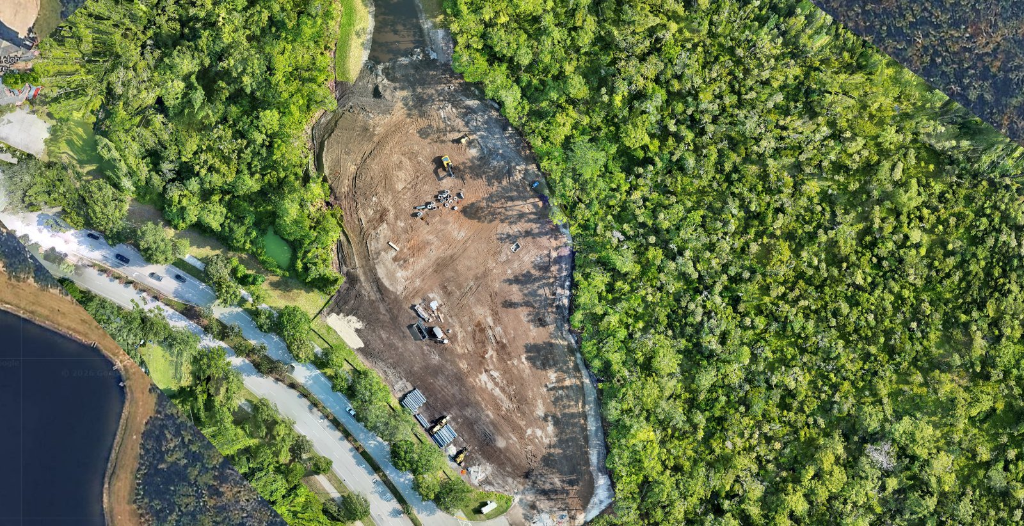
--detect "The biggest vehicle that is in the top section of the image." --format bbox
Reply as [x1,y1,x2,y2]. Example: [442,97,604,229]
[441,155,457,180]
